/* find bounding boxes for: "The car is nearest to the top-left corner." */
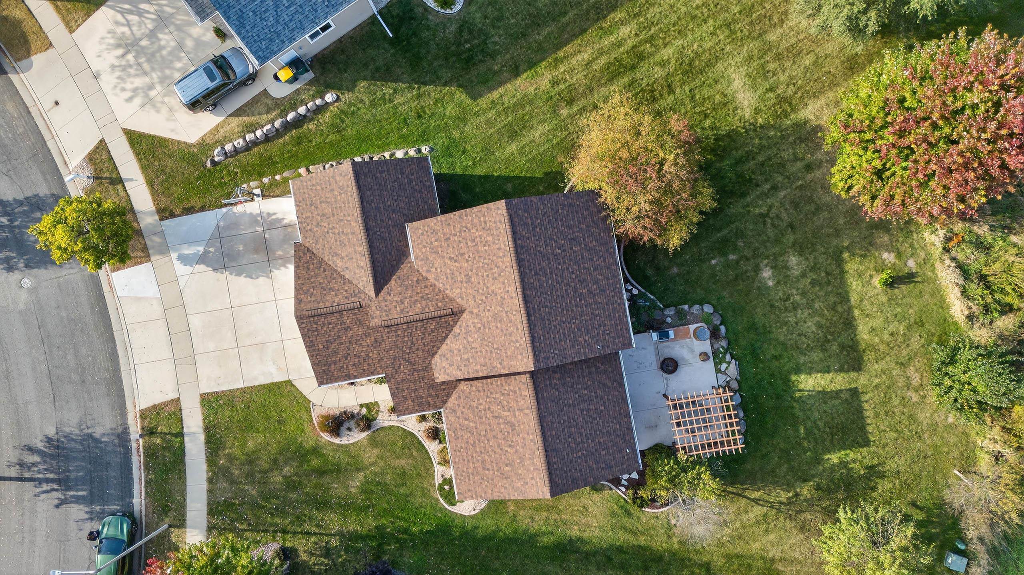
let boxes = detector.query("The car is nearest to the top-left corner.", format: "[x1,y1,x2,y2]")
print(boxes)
[171,46,257,116]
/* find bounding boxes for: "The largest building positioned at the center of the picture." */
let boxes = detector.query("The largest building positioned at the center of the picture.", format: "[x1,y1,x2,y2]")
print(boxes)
[288,157,642,503]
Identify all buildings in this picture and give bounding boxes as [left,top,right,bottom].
[288,157,642,503]
[176,0,397,79]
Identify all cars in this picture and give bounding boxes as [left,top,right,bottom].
[94,512,138,575]
[171,46,257,116]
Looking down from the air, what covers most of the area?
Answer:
grass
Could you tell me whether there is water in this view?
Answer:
No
